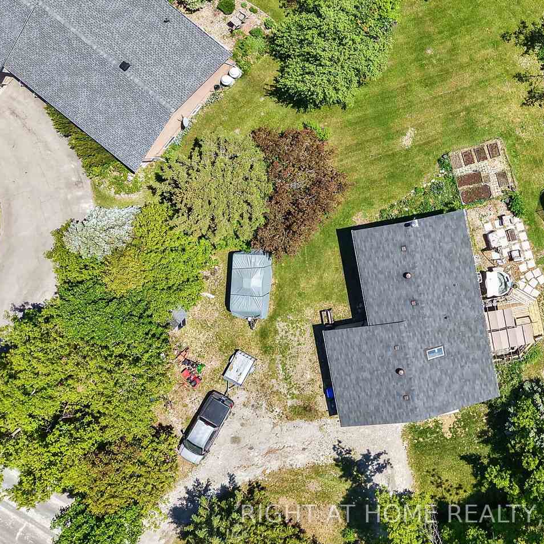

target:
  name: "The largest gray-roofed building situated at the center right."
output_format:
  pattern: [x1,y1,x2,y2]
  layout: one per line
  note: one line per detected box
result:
[324,208,499,426]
